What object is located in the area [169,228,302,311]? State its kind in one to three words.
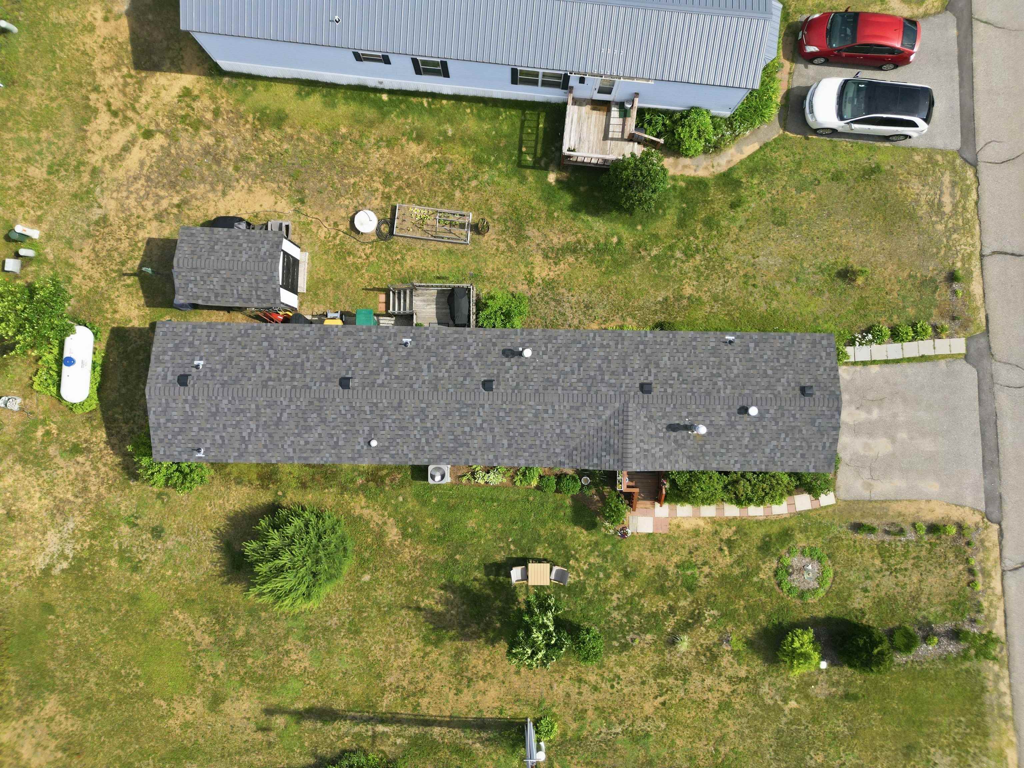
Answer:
shed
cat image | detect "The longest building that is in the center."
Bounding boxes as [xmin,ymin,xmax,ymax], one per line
[145,321,846,474]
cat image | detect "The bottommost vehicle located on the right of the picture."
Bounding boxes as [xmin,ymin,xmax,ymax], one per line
[800,67,935,141]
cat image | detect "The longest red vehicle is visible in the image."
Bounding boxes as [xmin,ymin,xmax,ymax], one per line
[794,2,923,72]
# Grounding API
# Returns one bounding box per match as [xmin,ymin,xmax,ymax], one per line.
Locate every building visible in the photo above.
[169,228,302,311]
[178,0,777,119]
[145,321,846,474]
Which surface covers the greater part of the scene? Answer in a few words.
grass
